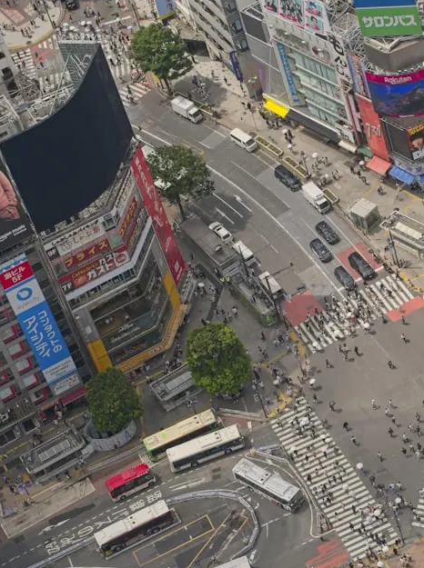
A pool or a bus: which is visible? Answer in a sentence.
Of the two, only a bus appears.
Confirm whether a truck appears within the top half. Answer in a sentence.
Yes, you'll find a truck within the top half.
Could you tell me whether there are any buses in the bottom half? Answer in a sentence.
Yes, the scene does show a bus in the bottom half.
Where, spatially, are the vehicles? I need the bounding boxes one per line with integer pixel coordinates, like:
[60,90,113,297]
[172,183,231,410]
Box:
[237,459,306,517]
[213,221,234,241]
[167,92,202,120]
[168,427,247,478]
[94,502,177,559]
[299,177,331,212]
[64,0,79,13]
[257,266,283,297]
[314,220,341,244]
[273,161,301,189]
[308,237,335,262]
[101,462,156,504]
[231,236,257,263]
[229,125,259,150]
[144,411,221,467]
[331,264,358,290]
[346,247,376,279]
